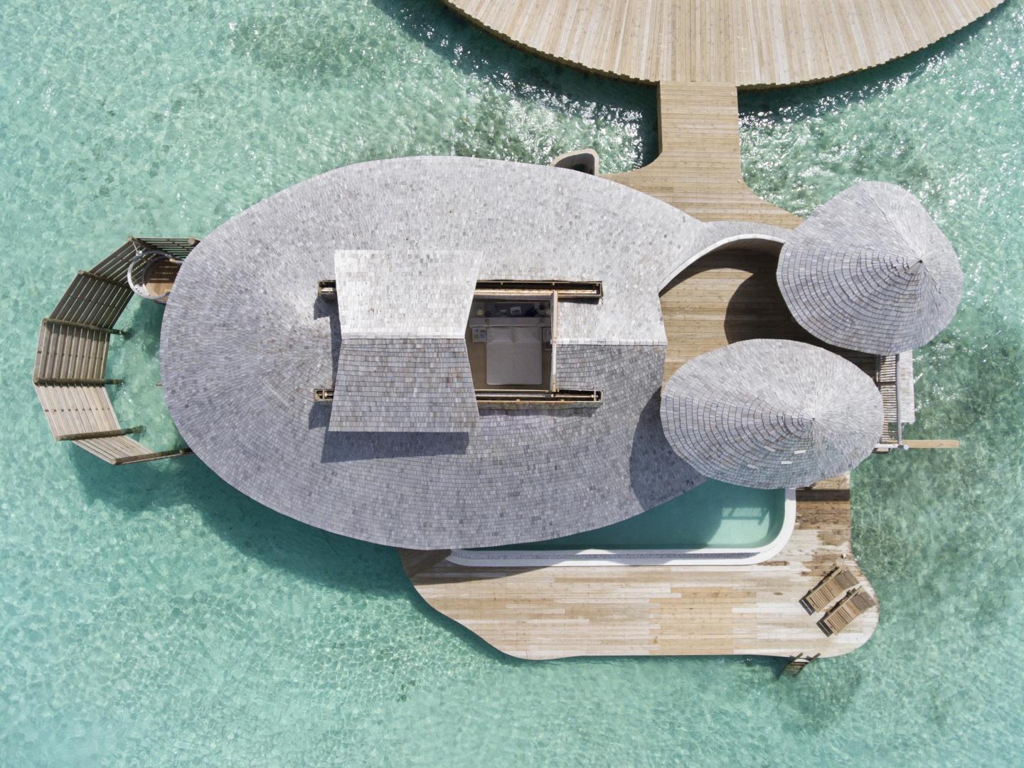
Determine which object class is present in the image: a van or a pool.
pool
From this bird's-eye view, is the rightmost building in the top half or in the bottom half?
top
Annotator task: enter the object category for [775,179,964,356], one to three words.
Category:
building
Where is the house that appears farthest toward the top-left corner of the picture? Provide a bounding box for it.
[159,155,706,550]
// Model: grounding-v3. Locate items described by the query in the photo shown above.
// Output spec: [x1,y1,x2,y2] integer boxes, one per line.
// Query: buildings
[159,155,706,550]
[775,179,964,356]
